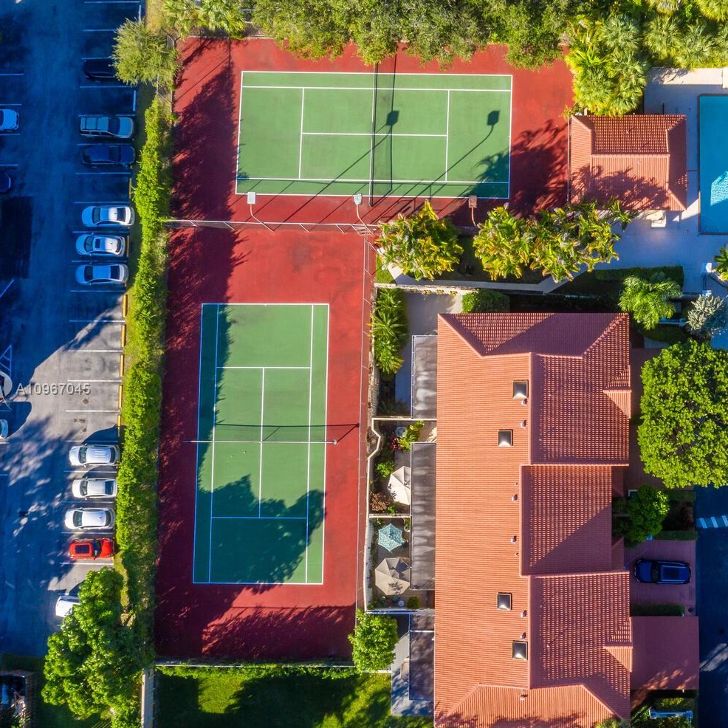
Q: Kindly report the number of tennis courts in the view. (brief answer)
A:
two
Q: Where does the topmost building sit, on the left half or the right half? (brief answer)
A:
right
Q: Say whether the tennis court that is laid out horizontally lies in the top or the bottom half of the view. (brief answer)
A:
top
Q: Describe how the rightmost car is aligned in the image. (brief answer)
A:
horizontally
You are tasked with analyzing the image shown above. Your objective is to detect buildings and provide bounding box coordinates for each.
[433,313,633,728]
[569,114,689,215]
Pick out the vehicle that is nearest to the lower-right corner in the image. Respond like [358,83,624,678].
[633,558,691,585]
